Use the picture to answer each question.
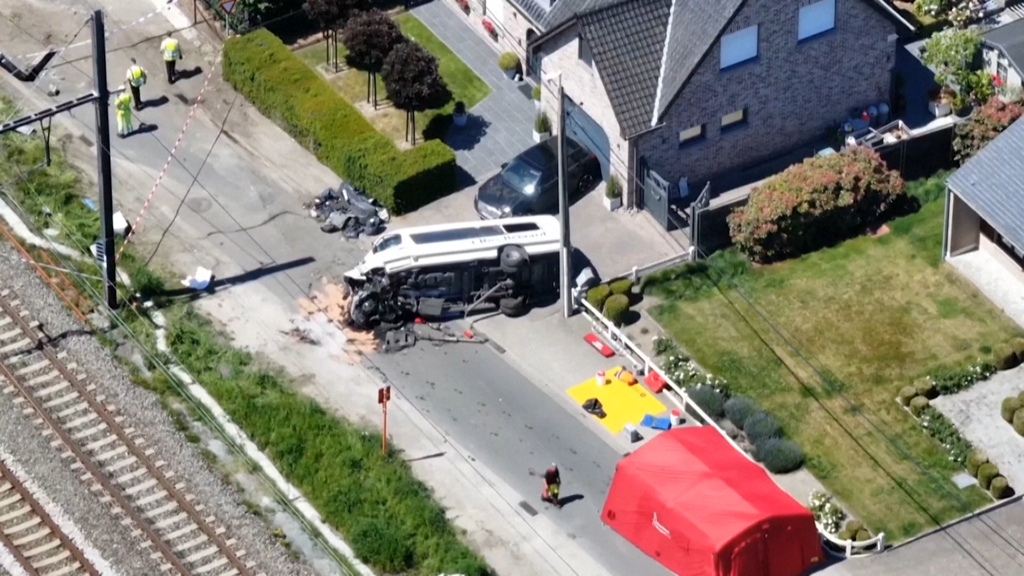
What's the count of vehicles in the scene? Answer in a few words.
2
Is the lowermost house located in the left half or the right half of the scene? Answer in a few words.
right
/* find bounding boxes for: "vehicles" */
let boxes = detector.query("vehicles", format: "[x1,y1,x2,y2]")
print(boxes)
[340,219,575,327]
[475,126,603,224]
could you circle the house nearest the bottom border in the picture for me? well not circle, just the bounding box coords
[941,115,1024,288]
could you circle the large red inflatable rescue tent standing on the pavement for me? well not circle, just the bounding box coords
[601,429,825,576]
